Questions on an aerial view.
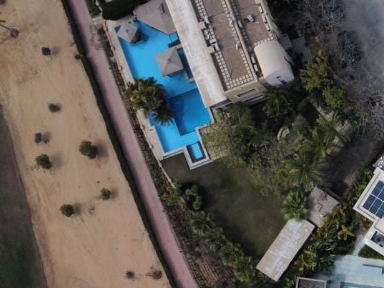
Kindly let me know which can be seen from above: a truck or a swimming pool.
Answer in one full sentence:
Visible in the photo is a swimming pool.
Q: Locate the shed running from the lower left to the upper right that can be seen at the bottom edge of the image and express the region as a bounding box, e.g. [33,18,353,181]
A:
[256,219,319,281]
